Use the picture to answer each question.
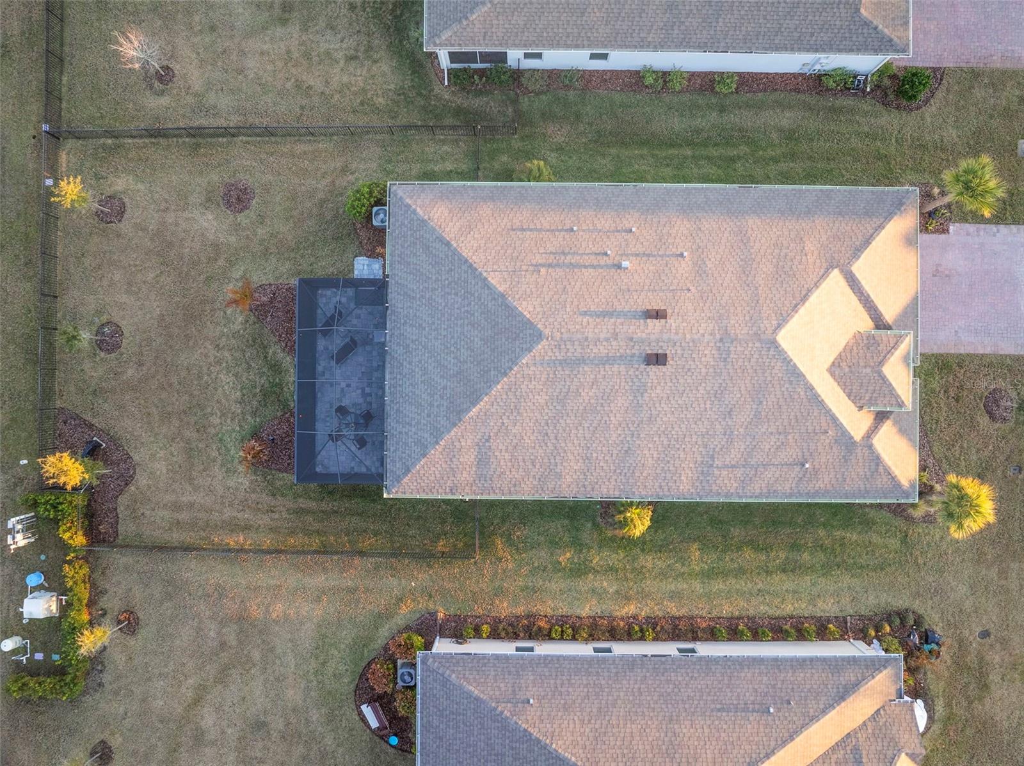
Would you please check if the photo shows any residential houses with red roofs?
No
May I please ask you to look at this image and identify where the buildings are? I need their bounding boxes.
[384,182,920,503]
[423,0,913,83]
[416,630,925,766]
